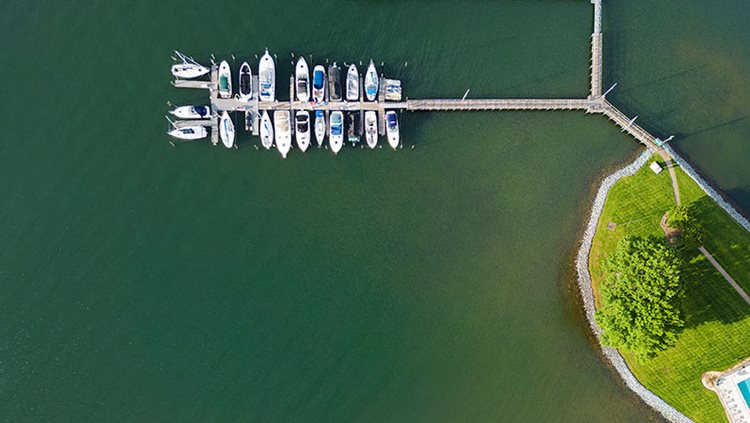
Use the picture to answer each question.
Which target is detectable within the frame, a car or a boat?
boat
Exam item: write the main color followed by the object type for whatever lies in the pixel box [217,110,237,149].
white boat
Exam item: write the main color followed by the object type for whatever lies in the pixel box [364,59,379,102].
white boat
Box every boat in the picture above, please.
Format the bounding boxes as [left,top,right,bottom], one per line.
[170,46,209,80]
[295,108,312,152]
[218,59,234,101]
[294,56,311,105]
[217,110,237,149]
[313,110,326,148]
[313,65,326,103]
[330,64,341,102]
[364,111,379,149]
[160,116,209,141]
[259,48,277,105]
[167,105,212,121]
[382,78,403,100]
[364,59,379,102]
[258,109,275,149]
[329,109,345,155]
[238,61,253,99]
[347,109,360,146]
[385,110,401,151]
[274,109,293,160]
[346,64,360,102]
